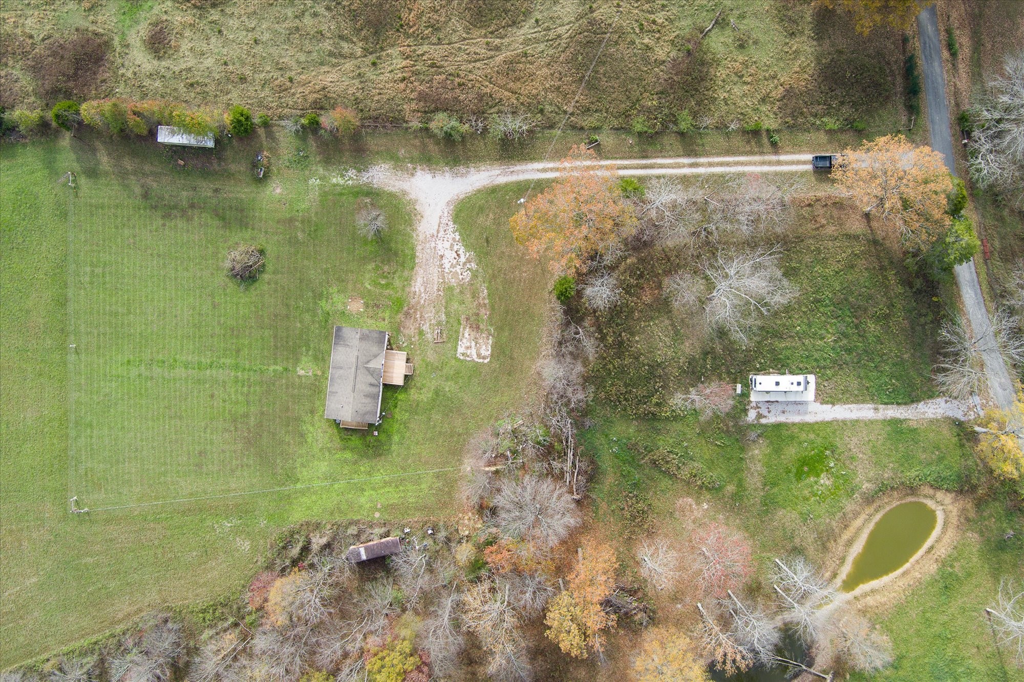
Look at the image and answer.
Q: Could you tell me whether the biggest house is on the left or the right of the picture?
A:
left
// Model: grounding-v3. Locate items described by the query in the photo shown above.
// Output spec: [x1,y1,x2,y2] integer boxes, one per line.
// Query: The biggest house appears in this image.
[324,326,388,423]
